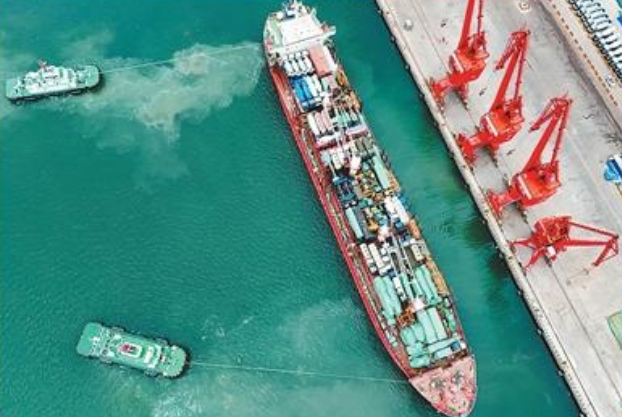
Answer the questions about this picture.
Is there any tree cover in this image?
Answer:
No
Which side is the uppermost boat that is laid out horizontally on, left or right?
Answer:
left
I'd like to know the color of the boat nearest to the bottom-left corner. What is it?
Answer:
green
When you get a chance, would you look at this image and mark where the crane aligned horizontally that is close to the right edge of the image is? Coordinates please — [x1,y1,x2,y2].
[507,219,622,274]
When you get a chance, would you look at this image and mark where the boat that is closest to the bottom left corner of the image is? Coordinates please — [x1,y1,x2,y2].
[77,320,190,378]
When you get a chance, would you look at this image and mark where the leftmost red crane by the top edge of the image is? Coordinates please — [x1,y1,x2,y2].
[425,0,483,104]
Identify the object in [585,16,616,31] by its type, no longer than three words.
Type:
vehicle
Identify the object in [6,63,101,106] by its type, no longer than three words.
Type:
boat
